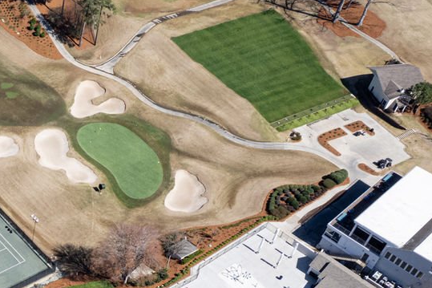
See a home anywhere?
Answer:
Yes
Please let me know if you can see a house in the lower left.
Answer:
No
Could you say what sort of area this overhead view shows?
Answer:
golf course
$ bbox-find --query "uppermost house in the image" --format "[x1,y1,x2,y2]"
[367,67,426,113]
